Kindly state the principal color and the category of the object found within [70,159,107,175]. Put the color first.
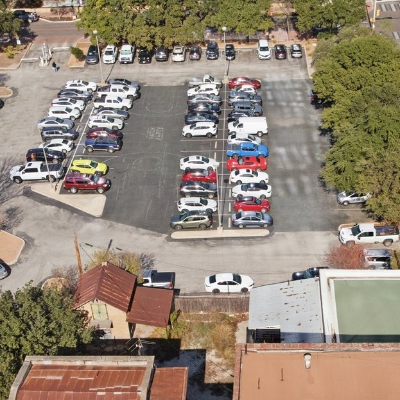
yellow car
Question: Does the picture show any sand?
No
